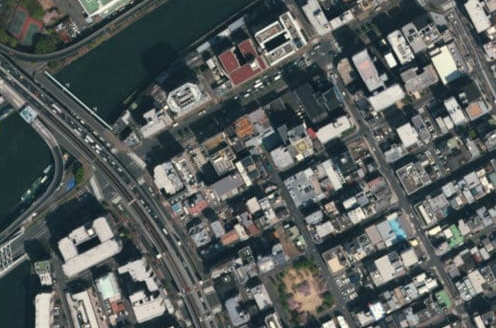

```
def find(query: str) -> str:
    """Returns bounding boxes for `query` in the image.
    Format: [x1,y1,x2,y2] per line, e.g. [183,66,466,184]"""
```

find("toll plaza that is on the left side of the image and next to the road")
[17,105,35,123]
